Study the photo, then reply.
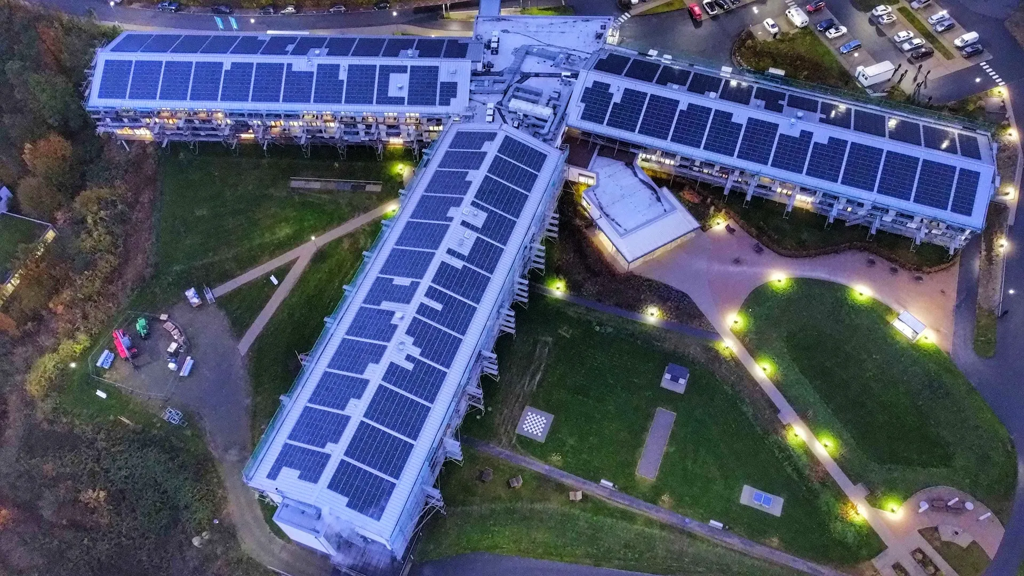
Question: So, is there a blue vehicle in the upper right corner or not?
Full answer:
Yes, a blue vehicle is visible in the upper right corner.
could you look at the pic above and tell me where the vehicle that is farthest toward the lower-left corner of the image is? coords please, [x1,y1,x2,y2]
[108,323,135,371]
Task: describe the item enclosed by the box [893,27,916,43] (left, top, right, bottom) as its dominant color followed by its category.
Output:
white car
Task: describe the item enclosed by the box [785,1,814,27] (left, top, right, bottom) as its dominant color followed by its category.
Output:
white car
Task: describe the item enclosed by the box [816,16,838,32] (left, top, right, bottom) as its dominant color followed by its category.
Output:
blue car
